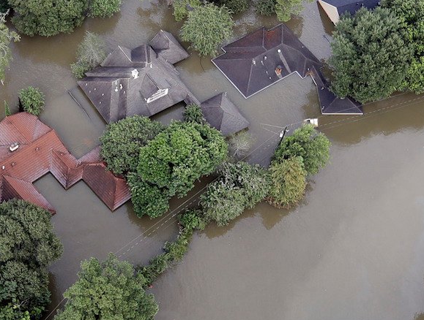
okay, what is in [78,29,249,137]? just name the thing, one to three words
house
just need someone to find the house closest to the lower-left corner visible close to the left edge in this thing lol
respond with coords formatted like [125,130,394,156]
[0,111,131,228]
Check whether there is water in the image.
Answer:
Yes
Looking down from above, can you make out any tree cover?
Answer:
Yes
